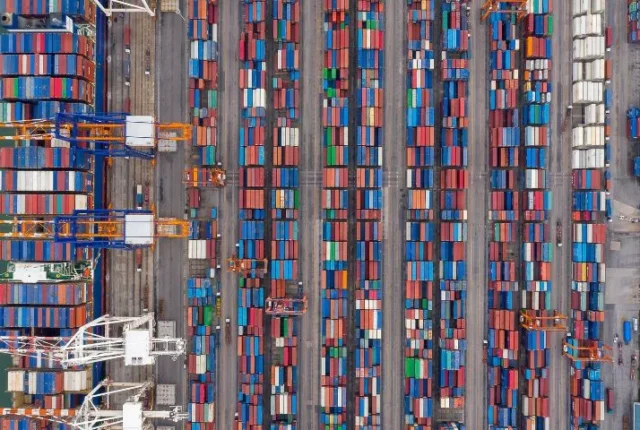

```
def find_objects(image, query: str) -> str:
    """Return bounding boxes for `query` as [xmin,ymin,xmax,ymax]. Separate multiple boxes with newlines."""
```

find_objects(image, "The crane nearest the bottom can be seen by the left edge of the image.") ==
[0,371,188,430]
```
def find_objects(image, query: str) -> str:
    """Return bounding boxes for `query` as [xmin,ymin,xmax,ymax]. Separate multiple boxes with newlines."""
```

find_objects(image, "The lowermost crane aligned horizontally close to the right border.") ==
[558,334,613,362]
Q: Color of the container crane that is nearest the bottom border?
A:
white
